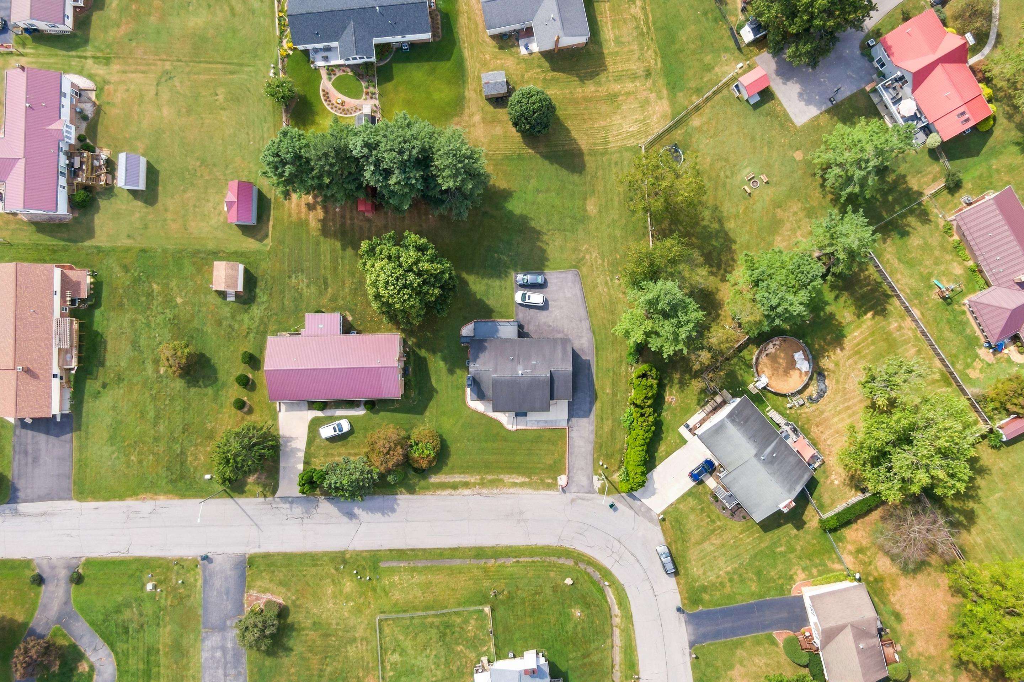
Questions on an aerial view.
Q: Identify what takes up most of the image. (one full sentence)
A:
For the most part, this view shows grass.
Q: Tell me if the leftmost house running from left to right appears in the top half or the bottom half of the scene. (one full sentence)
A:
The leftmost house running from left to right is in the top half of the image.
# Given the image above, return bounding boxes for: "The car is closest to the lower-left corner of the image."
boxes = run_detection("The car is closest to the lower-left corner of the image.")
[318,419,351,438]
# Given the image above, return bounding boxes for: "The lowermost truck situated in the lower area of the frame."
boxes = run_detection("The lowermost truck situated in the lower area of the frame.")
[656,543,677,576]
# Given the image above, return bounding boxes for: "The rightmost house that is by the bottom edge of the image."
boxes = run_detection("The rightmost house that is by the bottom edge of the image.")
[799,577,888,682]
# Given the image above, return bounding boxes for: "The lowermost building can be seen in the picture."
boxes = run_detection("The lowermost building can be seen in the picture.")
[474,650,551,682]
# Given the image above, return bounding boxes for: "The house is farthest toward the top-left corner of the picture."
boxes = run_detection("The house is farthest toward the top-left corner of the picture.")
[11,0,87,31]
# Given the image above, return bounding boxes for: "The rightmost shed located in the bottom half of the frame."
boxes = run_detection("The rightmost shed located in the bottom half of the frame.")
[991,412,1024,442]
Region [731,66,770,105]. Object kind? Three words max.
shed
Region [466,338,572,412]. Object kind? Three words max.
house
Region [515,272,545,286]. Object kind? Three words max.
car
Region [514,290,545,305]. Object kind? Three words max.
car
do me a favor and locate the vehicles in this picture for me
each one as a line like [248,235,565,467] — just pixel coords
[656,543,677,576]
[318,419,351,438]
[515,272,545,286]
[0,17,7,30]
[514,290,545,305]
[688,459,716,484]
